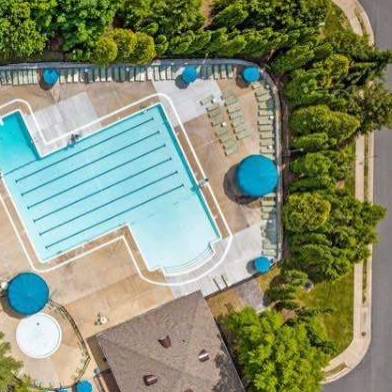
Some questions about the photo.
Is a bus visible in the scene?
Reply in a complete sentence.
No, the scene contains no bus.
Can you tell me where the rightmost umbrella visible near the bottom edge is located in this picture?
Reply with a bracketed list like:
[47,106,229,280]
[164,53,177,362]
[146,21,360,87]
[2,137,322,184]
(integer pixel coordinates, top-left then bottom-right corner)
[74,378,92,392]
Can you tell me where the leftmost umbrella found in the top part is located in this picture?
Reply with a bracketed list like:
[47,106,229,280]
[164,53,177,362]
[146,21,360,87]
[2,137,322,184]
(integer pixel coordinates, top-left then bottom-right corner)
[41,68,58,85]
